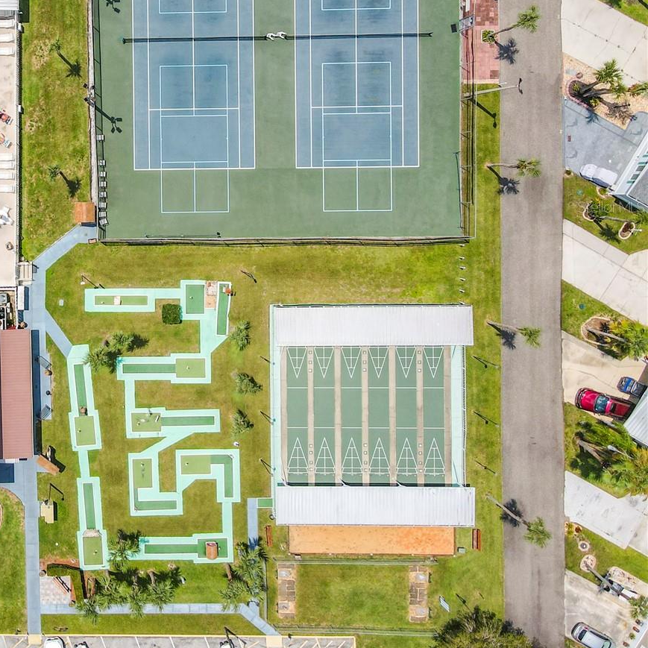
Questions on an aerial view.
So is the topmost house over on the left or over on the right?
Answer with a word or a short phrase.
right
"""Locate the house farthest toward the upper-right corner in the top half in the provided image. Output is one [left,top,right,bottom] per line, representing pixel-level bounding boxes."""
[612,125,648,211]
